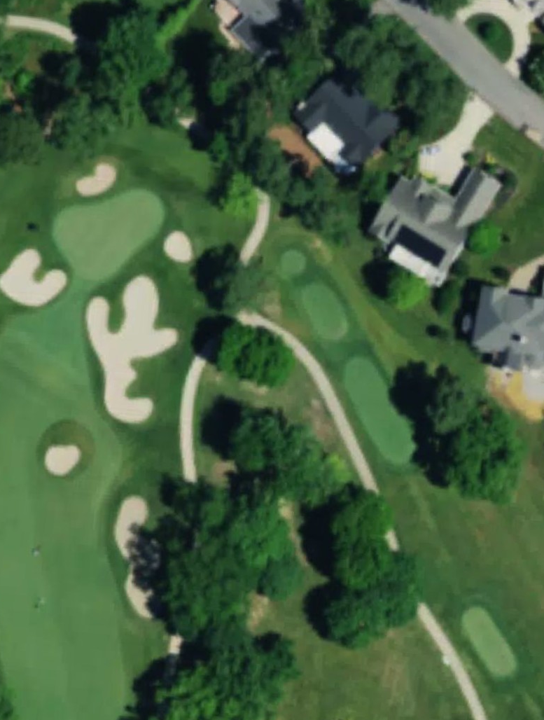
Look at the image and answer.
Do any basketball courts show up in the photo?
No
